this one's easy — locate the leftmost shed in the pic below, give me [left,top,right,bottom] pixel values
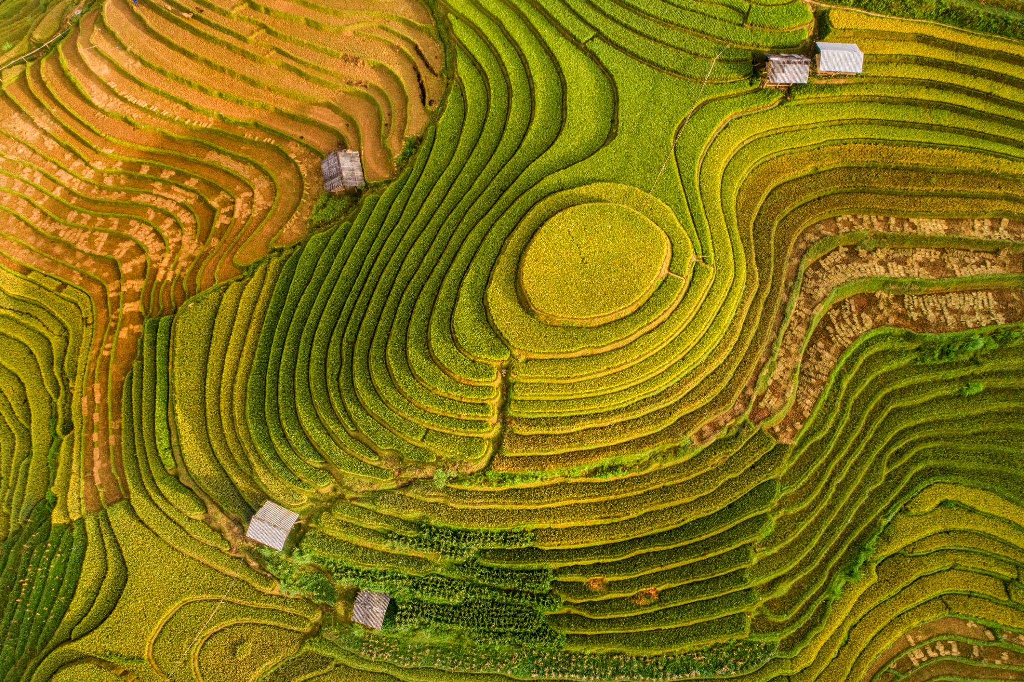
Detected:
[249,500,297,550]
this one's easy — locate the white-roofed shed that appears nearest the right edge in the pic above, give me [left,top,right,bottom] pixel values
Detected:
[807,43,865,82]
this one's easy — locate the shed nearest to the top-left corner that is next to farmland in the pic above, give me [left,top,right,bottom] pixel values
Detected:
[322,152,369,194]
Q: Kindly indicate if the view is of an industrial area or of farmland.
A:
farmland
